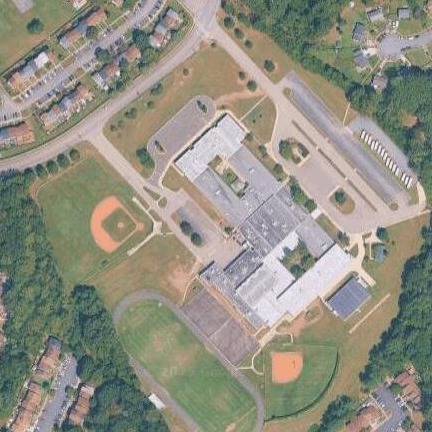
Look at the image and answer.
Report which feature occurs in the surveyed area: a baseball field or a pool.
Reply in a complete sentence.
This aerial view contains a baseball field.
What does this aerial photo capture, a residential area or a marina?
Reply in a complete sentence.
This image shows a residential area.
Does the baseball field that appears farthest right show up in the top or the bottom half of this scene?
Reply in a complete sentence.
Seen from above, the baseball field that appears farthest right lies in the bottom half of the view.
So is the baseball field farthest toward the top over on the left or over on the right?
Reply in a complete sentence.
The baseball field farthest toward the top appears in the left half of the scene.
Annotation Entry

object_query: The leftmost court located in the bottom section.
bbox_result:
[183,288,232,337]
